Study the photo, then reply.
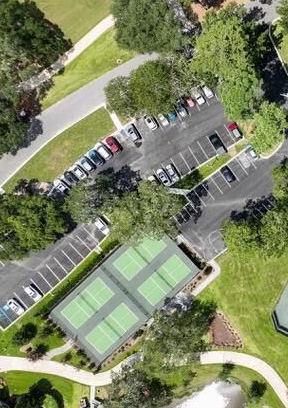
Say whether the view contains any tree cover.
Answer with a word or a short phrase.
Yes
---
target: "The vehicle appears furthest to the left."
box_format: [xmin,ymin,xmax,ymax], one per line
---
[9,298,26,315]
